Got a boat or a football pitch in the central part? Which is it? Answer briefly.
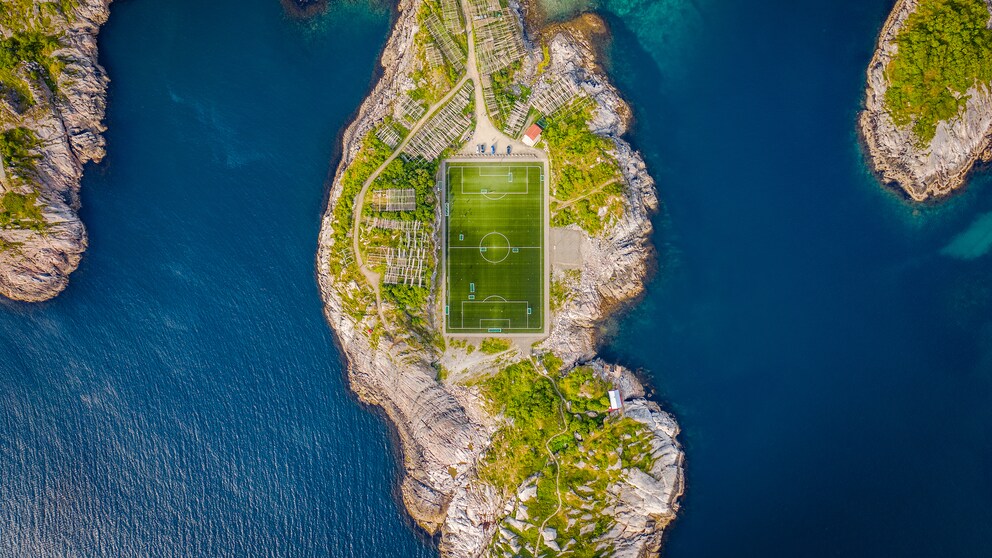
football pitch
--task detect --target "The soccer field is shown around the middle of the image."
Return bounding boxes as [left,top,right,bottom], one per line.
[442,159,549,337]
